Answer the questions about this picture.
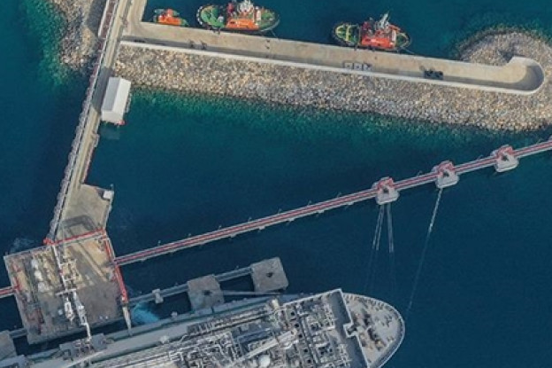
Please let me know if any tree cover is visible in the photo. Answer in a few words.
No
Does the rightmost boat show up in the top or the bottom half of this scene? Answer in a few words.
top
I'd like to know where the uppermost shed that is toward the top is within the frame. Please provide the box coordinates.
[101,76,132,131]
